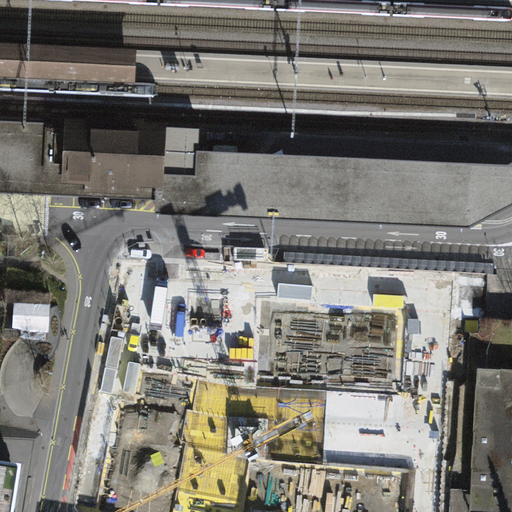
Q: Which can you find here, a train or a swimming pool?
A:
train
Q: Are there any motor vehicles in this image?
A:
Yes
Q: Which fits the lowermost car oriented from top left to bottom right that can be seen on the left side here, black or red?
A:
black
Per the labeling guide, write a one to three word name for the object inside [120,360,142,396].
building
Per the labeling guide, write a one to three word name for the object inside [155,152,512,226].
building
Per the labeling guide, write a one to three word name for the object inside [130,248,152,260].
vehicle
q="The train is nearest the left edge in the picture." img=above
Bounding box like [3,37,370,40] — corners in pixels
[0,78,155,102]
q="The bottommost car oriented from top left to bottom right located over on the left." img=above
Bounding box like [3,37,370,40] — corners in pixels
[61,226,81,250]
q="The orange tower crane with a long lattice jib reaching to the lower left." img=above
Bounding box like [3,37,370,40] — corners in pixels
[111,405,314,512]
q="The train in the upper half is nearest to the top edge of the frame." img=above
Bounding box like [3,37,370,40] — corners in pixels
[25,0,511,21]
